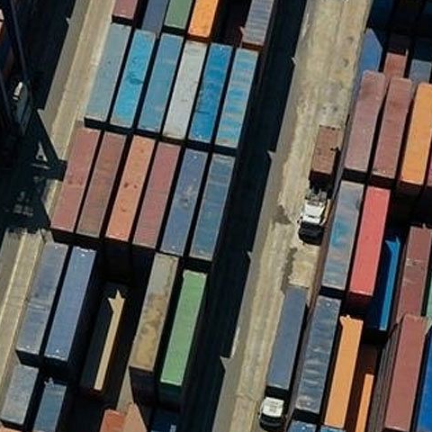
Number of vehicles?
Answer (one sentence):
I count 2 vehicles.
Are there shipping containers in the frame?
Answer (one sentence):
Yes, the frame does contain a shipping container.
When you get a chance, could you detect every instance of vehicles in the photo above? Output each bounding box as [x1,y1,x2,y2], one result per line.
[295,178,324,240]
[256,377,282,428]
